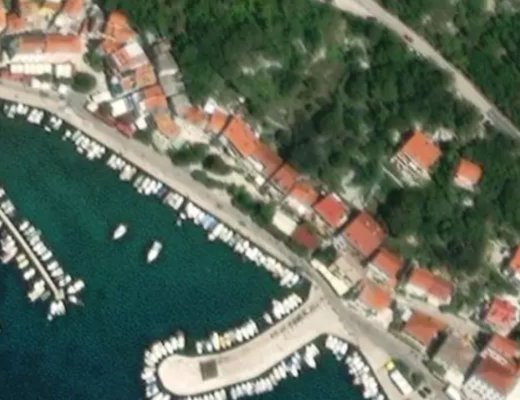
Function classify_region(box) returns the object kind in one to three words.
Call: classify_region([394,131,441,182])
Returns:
house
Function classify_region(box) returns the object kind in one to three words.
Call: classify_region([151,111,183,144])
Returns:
house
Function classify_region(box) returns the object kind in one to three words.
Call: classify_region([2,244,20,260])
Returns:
boat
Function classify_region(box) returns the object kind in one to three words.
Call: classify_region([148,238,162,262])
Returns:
boat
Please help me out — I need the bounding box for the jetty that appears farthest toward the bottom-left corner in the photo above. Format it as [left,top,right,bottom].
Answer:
[0,207,64,300]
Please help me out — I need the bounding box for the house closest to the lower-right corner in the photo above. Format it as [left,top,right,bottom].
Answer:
[479,357,520,399]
